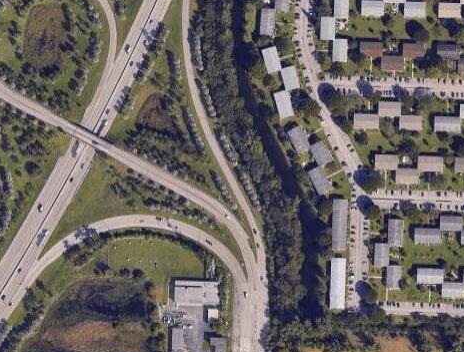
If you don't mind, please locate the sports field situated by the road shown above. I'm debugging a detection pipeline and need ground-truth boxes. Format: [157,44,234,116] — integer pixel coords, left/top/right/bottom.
[108,237,203,282]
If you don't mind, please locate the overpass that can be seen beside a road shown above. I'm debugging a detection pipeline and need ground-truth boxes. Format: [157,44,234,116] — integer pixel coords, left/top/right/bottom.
[50,111,131,158]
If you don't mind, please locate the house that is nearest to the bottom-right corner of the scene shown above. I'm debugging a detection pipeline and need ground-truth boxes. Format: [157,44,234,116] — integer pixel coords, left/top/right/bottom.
[443,283,464,298]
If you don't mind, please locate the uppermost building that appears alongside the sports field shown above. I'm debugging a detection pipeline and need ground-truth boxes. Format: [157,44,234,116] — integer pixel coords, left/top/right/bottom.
[175,280,219,305]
